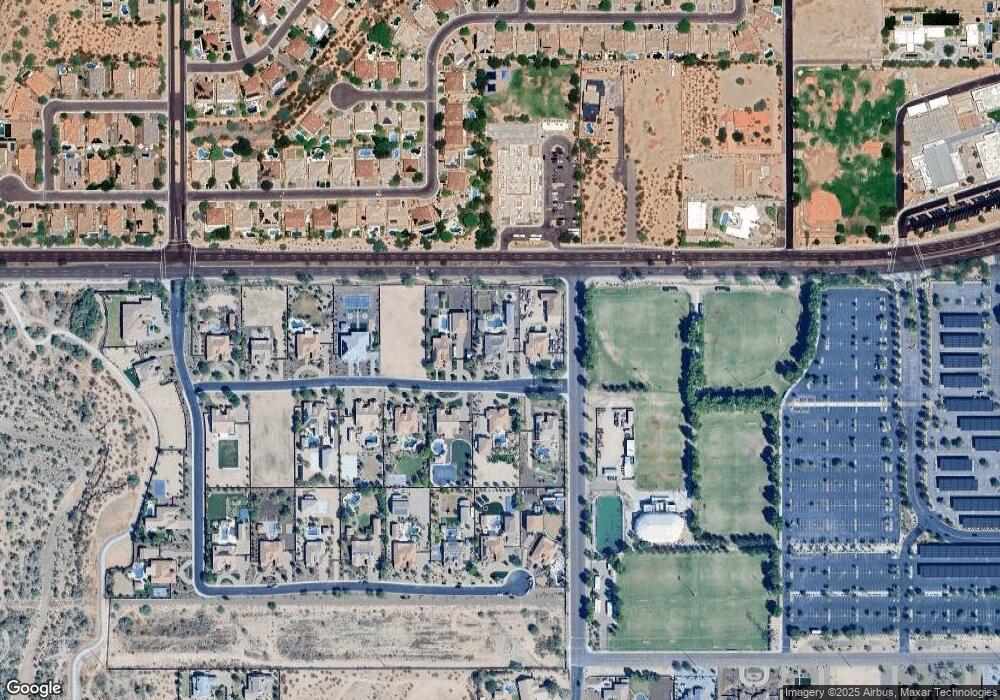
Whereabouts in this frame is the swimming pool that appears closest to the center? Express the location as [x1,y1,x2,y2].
[483,314,504,329]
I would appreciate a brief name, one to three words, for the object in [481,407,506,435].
house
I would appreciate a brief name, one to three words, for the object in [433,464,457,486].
sports court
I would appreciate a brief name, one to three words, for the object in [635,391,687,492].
sports field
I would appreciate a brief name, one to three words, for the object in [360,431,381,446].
swimming pool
